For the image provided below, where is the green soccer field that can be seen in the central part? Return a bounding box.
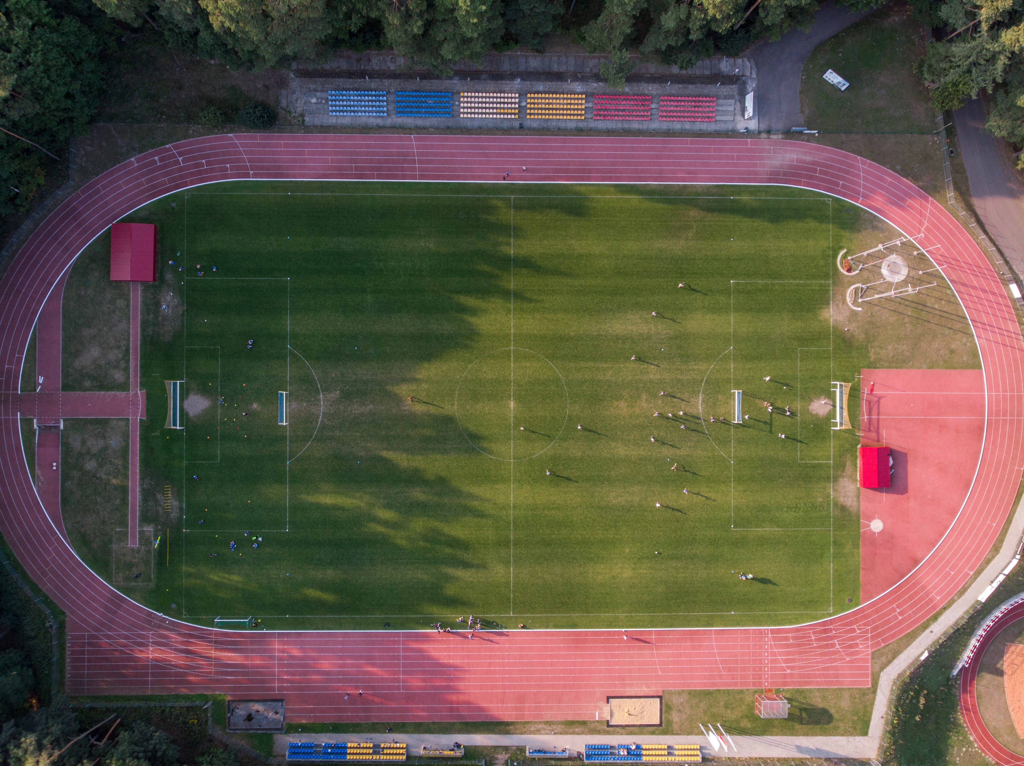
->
[145,180,861,630]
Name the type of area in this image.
sports ground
